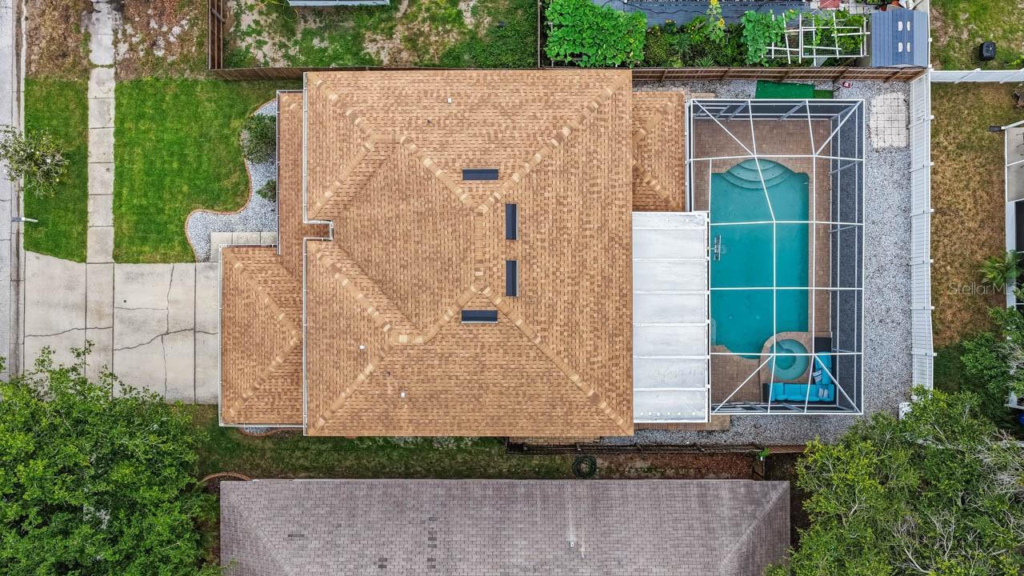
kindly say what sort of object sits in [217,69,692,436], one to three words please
house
